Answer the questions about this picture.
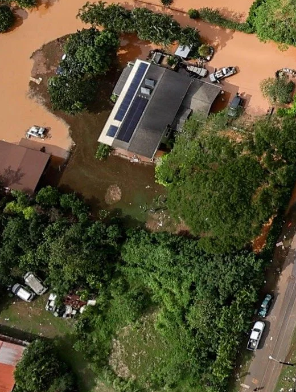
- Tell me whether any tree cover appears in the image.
Yes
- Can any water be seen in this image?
Yes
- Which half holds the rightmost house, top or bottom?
top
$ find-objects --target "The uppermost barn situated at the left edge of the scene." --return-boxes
[0,141,56,196]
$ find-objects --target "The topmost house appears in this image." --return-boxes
[98,59,223,164]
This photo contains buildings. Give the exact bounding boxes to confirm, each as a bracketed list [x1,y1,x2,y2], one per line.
[0,341,27,392]
[0,141,56,196]
[98,59,223,164]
